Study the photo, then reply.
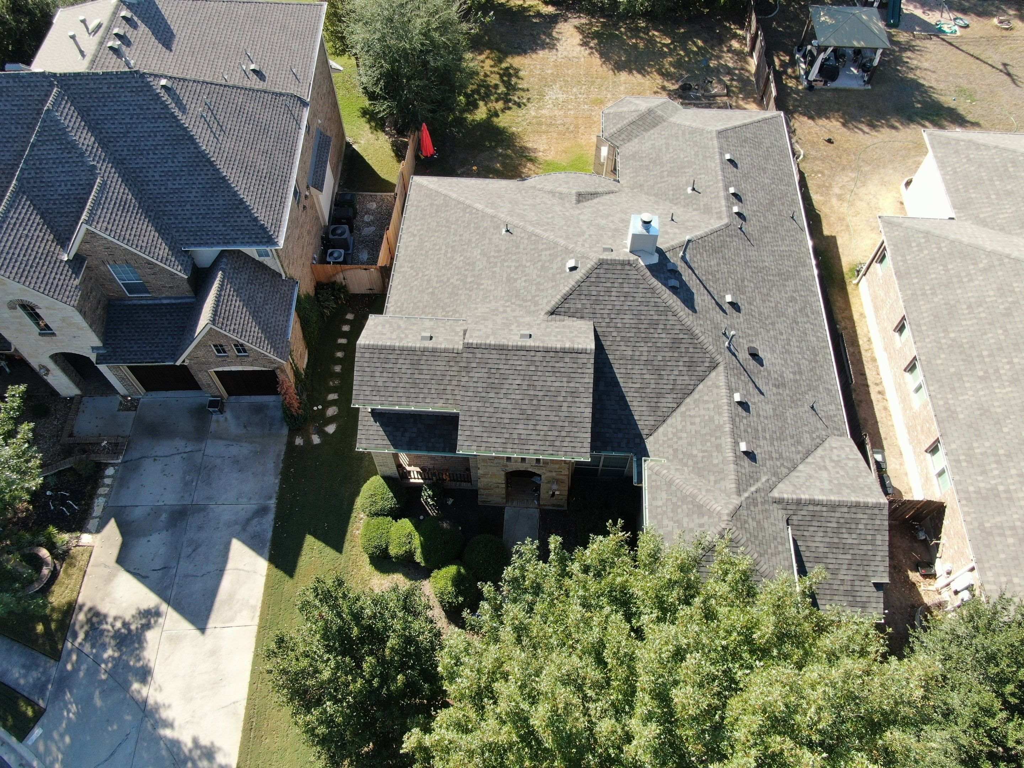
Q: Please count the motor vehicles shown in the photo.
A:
0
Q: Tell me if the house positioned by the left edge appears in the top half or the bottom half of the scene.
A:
top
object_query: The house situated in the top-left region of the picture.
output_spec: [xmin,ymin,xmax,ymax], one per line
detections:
[0,0,340,399]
